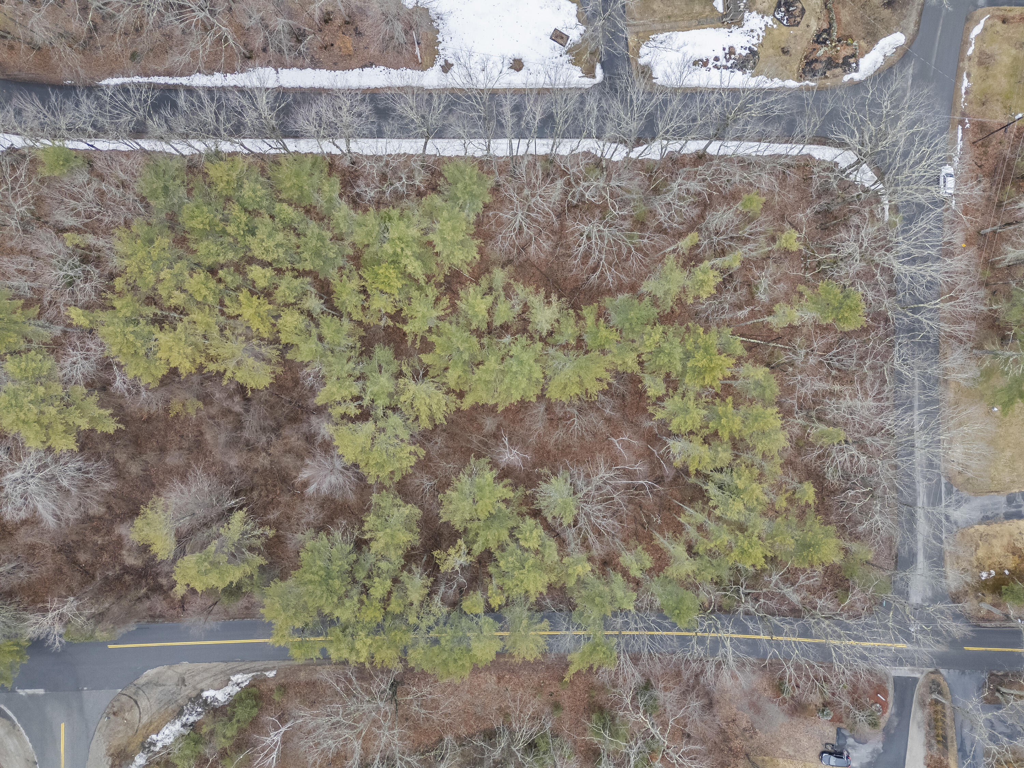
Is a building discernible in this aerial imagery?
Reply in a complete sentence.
No, there isn't any building down there.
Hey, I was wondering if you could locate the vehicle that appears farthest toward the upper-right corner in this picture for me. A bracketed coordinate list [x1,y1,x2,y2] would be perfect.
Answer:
[940,164,958,195]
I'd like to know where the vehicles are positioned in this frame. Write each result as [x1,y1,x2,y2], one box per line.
[940,164,958,195]
[819,752,851,768]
